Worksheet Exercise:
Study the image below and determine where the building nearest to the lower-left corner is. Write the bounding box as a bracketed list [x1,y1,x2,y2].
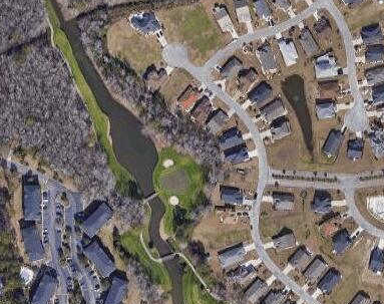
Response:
[31,273,57,304]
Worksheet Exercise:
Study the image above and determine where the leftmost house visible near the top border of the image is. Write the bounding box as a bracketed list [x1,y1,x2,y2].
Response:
[131,12,156,32]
